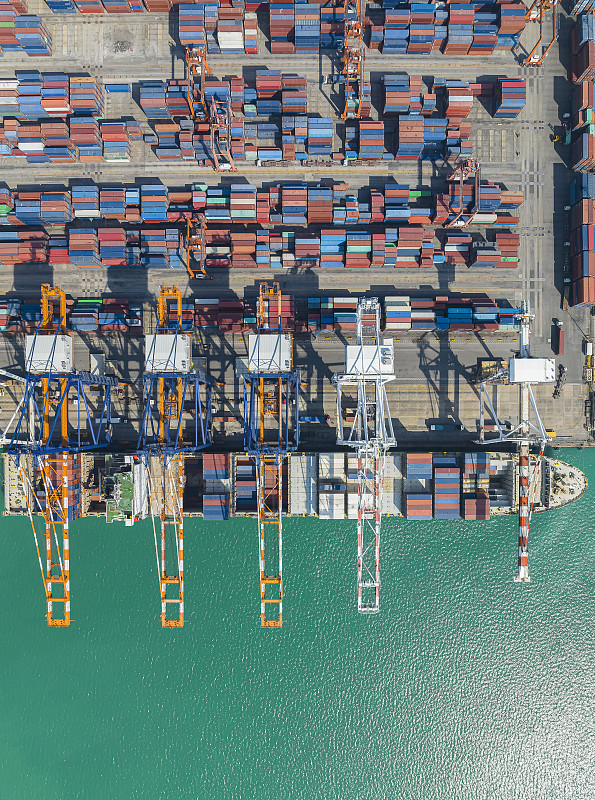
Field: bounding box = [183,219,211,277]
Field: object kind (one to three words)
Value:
container crane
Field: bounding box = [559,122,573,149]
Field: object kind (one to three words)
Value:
work vehicle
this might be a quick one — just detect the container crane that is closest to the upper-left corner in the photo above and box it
[186,48,212,116]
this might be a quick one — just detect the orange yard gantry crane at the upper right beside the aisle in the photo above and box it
[525,0,561,62]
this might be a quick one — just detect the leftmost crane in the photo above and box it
[0,376,44,448]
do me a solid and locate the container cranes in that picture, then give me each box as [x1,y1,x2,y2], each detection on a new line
[186,48,212,116]
[341,0,365,64]
[525,0,561,62]
[213,102,237,170]
[468,290,559,587]
[447,161,480,228]
[7,283,126,626]
[183,219,211,277]
[340,48,366,116]
[137,283,224,627]
[326,296,400,612]
[242,283,308,627]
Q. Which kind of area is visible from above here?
port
